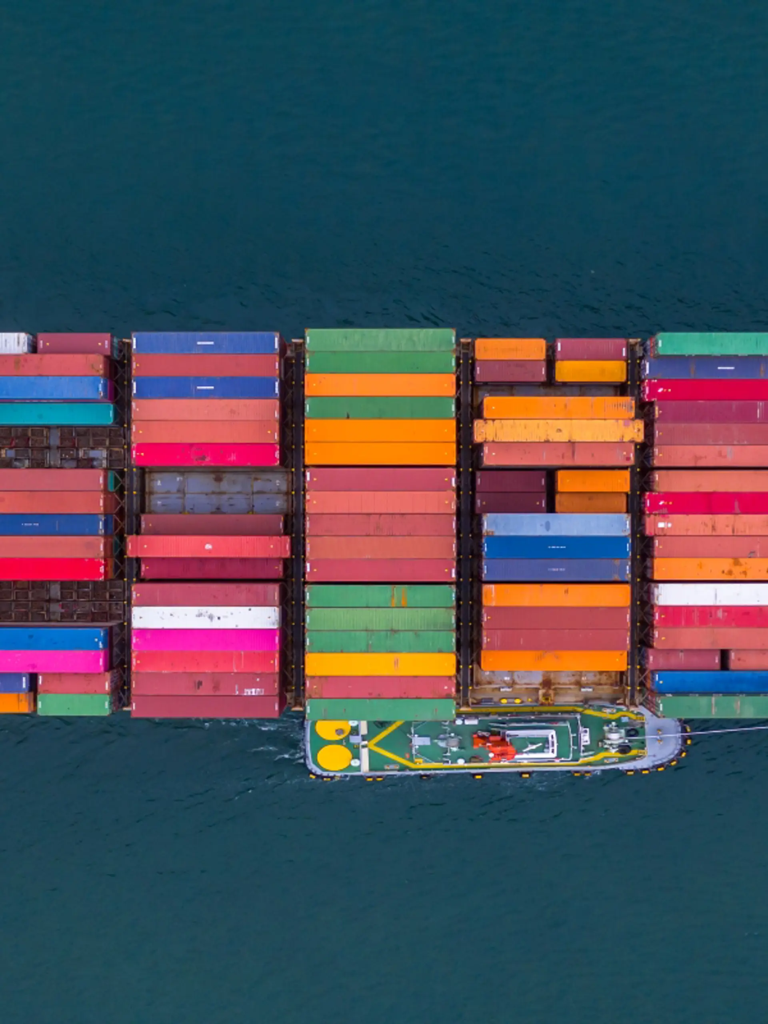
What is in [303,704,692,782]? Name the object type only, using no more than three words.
boat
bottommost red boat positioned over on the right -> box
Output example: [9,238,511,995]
[488,746,519,762]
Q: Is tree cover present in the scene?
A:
No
